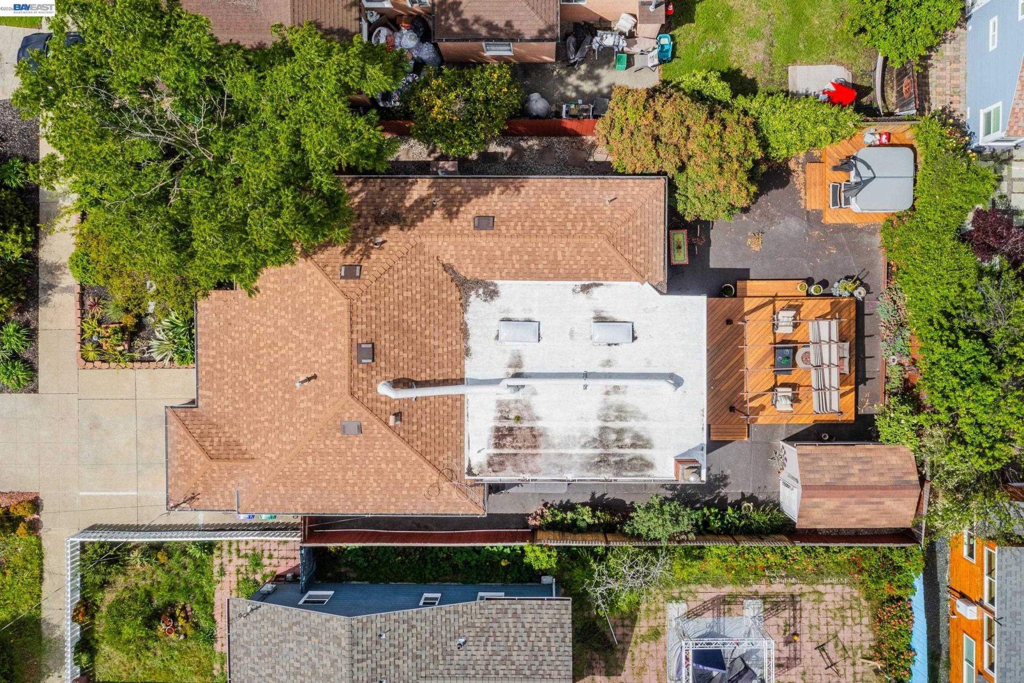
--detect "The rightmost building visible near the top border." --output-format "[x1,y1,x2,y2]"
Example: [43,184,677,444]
[965,0,1024,147]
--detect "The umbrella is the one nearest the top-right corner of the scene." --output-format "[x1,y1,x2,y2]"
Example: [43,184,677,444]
[835,157,870,201]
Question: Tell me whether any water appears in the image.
No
